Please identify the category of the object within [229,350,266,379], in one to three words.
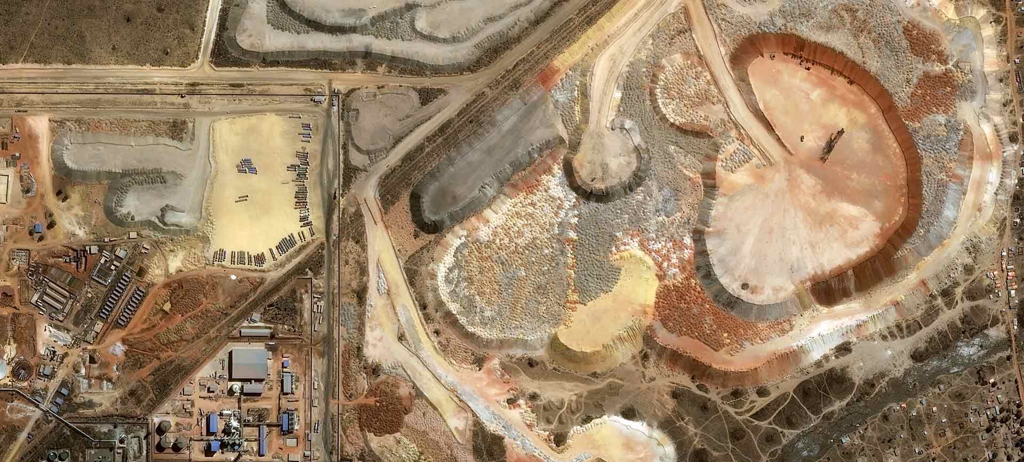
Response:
building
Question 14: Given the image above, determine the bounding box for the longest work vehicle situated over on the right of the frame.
[823,126,848,160]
